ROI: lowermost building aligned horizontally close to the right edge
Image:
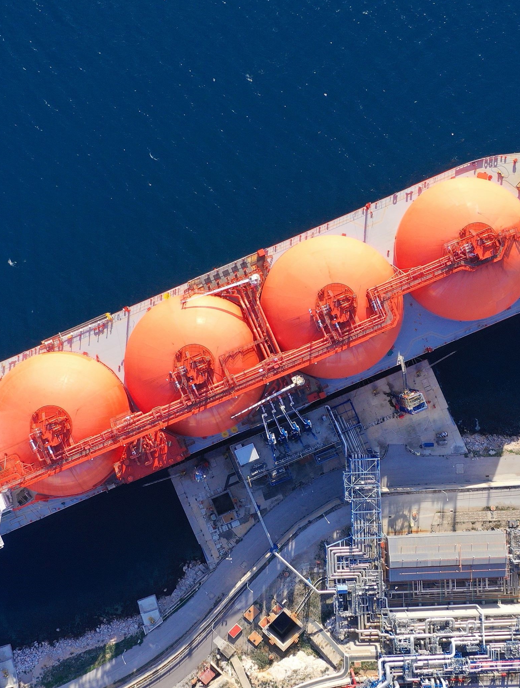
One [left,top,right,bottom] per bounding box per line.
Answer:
[386,531,507,581]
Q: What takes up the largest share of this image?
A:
water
